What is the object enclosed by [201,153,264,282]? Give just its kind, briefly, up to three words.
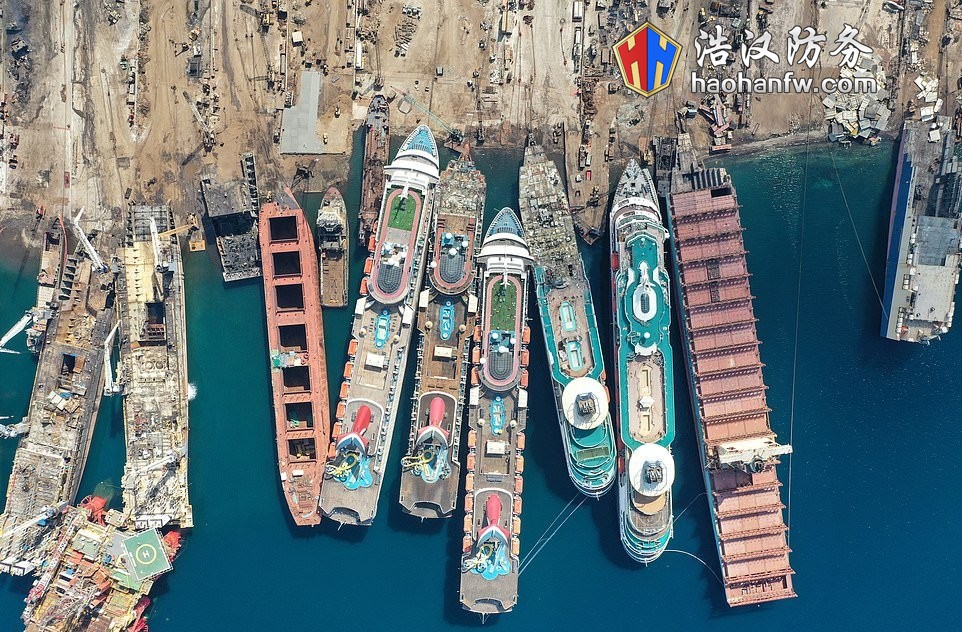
ship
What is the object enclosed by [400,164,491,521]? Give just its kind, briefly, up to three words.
ship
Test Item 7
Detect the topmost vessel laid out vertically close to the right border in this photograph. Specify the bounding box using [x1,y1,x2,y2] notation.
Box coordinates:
[882,119,962,344]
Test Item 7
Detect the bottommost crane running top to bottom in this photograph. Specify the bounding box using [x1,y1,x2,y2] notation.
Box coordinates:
[103,317,123,394]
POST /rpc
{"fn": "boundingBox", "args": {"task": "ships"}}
[318,186,350,306]
[517,146,616,499]
[610,160,675,567]
[400,164,491,521]
[357,94,390,243]
[320,125,444,527]
[113,204,194,528]
[0,254,119,575]
[459,206,533,613]
[260,187,330,526]
[665,136,797,610]
[882,119,962,344]
[26,213,71,351]
[201,153,264,282]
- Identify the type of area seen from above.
port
